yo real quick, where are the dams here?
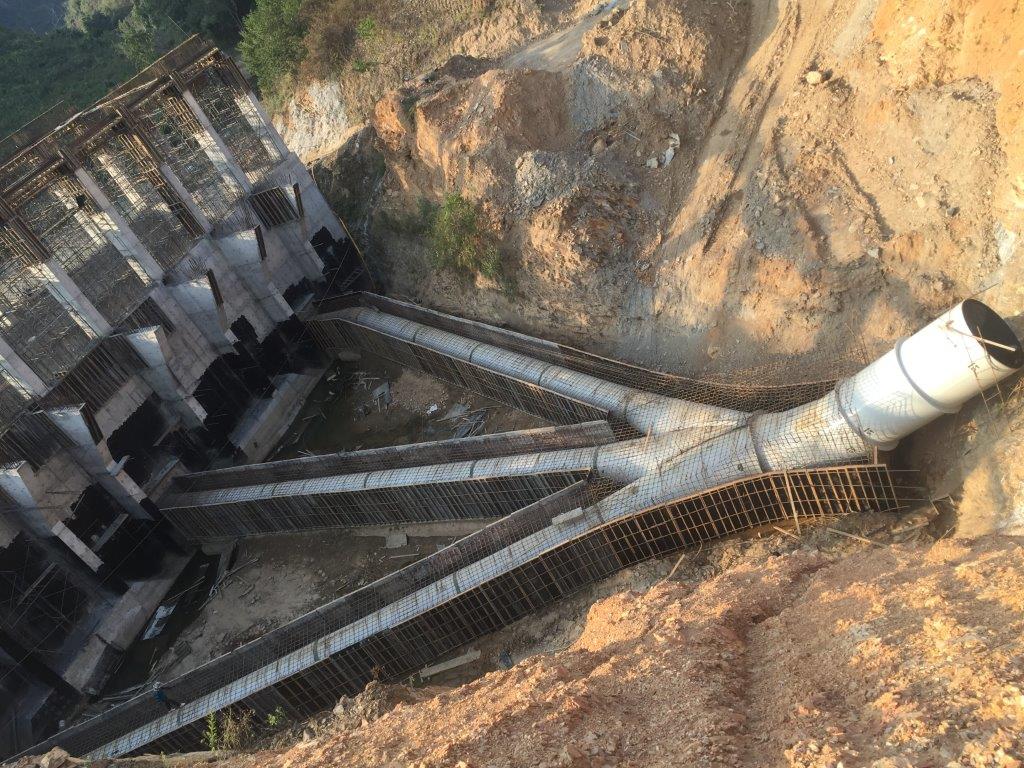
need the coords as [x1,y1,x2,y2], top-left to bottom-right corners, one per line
[0,53,365,697]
